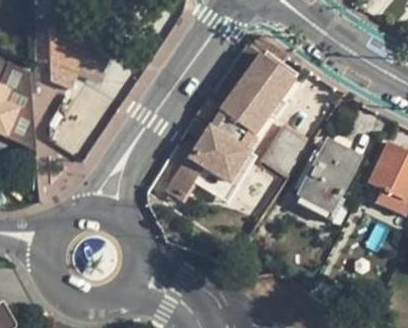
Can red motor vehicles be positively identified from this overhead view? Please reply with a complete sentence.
No, there isn't any red motor vehicle down there.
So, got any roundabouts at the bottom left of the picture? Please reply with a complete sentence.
Yes, a roundabout appears at the bottom left of the picture.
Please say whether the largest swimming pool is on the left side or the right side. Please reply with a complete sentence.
You can find the largest swimming pool on the right side of the picture.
